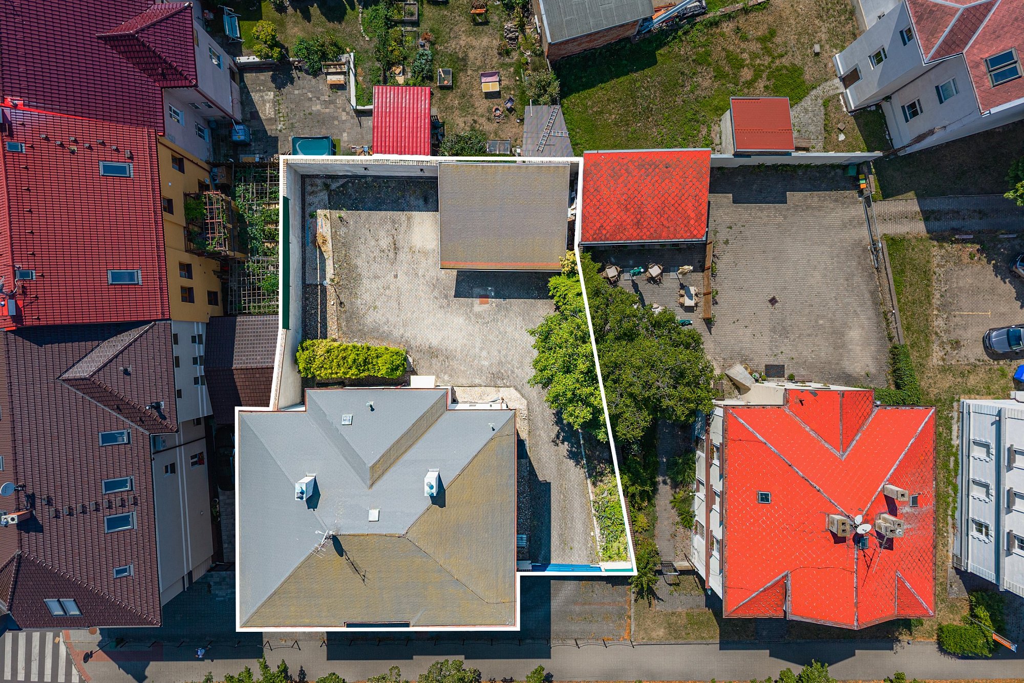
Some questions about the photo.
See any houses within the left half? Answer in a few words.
Yes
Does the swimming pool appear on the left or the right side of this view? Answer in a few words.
left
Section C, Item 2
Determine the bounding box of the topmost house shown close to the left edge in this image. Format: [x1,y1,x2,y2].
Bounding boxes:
[0,0,240,163]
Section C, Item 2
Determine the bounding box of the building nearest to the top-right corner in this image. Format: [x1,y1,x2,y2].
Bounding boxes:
[834,0,1024,156]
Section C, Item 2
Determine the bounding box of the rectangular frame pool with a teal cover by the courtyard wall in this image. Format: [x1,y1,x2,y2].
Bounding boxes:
[291,136,337,157]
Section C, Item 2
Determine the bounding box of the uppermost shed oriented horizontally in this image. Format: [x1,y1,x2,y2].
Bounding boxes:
[537,0,656,57]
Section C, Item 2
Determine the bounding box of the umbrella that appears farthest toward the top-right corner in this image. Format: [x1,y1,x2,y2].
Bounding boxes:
[670,267,694,279]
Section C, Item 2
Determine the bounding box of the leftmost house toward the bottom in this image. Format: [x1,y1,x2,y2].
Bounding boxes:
[0,323,215,629]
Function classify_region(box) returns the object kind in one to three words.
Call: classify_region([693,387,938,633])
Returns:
house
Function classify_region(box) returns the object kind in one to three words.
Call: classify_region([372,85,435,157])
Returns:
shed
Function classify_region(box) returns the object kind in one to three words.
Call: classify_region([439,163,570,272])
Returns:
building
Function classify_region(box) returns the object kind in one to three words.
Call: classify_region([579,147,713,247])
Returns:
building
